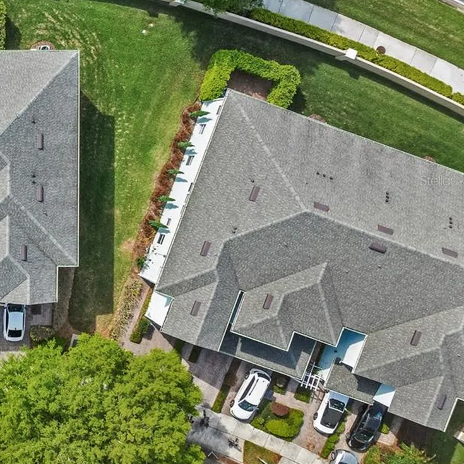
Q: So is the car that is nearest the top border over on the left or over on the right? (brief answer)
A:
left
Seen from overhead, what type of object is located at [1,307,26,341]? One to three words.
car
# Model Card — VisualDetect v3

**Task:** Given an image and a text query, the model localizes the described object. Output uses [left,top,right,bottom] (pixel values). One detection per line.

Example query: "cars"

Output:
[324,444,356,464]
[224,363,272,425]
[343,395,388,453]
[1,307,26,341]
[310,388,352,438]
